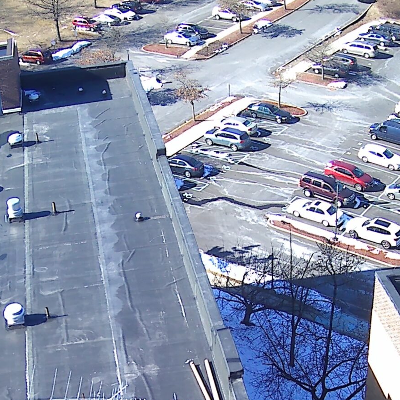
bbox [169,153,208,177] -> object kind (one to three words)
car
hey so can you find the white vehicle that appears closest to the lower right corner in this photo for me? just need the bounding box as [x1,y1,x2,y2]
[344,215,400,248]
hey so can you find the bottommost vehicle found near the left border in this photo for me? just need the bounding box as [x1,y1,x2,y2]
[18,45,52,64]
